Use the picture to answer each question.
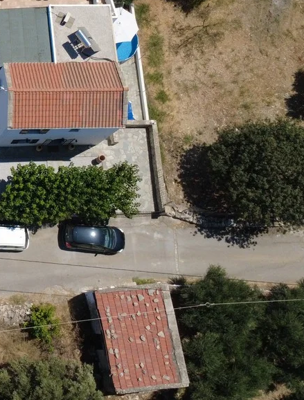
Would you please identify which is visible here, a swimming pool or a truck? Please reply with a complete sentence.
This aerial view contains a swimming pool.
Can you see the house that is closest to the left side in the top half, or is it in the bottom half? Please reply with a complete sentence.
It is in the top half that the house that is closest to the left side appears.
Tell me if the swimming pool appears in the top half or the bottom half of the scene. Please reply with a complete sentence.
It is in the top half that the swimming pool appears.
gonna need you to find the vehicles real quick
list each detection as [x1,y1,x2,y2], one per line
[57,223,124,258]
[0,225,30,255]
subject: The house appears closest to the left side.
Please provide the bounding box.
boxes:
[0,0,132,152]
